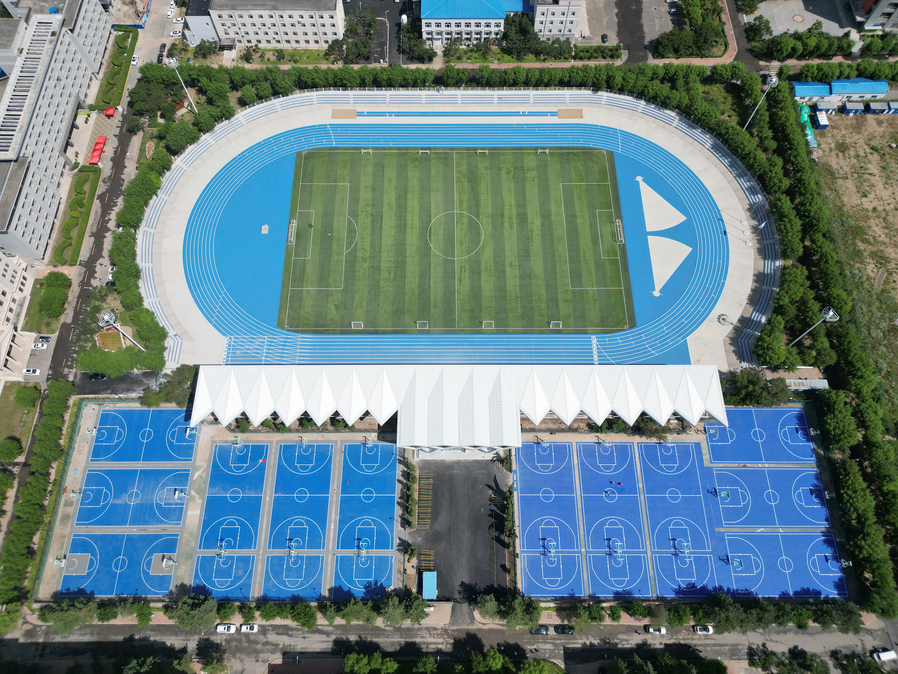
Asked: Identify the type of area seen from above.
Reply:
sports ground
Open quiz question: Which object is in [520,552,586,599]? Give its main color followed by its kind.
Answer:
blue basketball court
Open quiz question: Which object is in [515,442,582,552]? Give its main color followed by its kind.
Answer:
blue basketball court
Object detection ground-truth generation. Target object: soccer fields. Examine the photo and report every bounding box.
[277,147,636,334]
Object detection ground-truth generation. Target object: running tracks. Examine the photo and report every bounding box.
[182,124,729,365]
